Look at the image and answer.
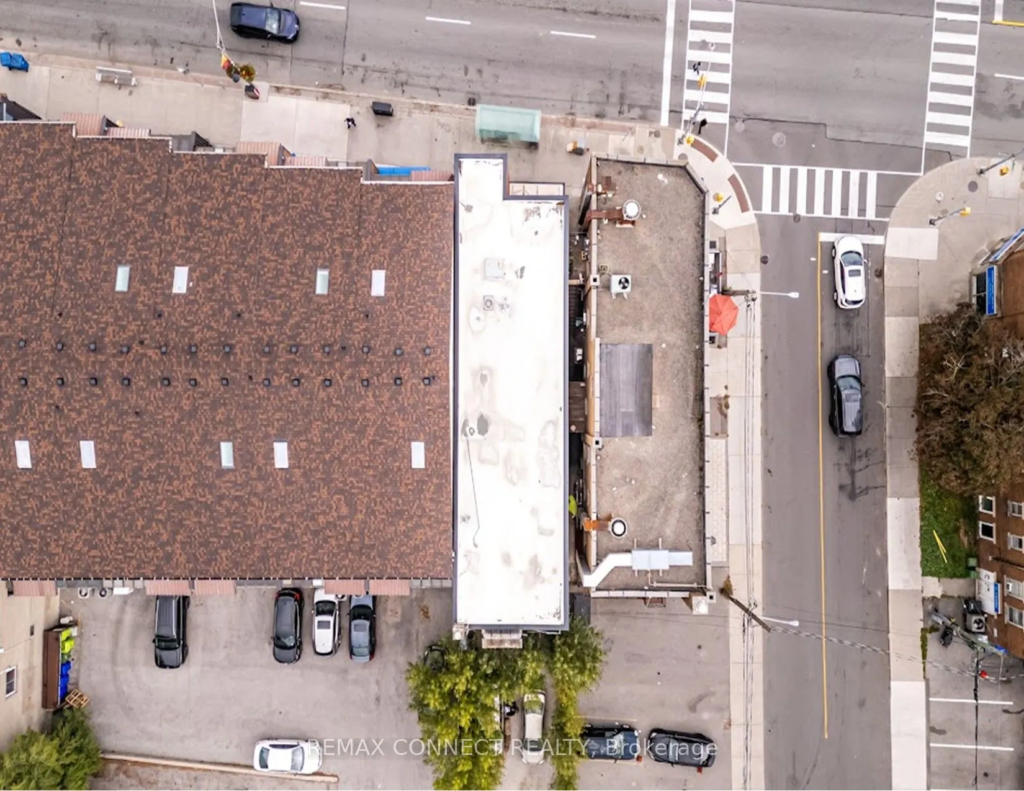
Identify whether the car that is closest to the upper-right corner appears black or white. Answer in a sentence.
The car that is closest to the upper-right corner is white.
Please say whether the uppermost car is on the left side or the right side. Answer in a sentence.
The uppermost car sits on the left side.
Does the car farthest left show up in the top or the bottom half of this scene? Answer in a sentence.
Seen from above, the car farthest left lies in the bottom half of the view.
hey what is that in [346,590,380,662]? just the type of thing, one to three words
car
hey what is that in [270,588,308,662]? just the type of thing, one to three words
car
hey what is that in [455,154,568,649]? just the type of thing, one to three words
building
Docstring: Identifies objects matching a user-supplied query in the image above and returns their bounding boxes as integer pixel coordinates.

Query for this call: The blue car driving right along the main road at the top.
[230,4,303,47]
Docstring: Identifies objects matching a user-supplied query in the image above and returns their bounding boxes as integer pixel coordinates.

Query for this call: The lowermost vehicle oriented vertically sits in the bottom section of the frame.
[518,689,551,761]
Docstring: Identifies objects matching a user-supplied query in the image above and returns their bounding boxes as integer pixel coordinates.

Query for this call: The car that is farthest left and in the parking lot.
[150,596,193,666]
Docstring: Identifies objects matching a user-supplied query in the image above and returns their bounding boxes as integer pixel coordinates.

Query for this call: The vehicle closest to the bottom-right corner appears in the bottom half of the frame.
[646,723,717,768]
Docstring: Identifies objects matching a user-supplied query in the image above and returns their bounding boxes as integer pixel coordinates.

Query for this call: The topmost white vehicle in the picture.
[827,238,868,310]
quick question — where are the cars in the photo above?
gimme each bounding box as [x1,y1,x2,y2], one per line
[270,588,308,662]
[150,596,193,666]
[824,357,867,436]
[254,735,324,775]
[827,238,868,310]
[646,723,717,768]
[574,720,645,762]
[346,590,380,662]
[308,589,345,657]
[230,4,303,47]
[518,689,551,761]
